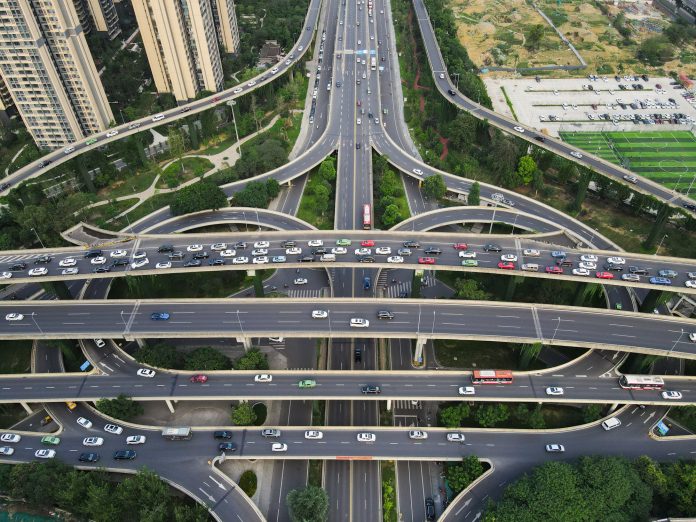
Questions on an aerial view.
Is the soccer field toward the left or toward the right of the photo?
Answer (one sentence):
The soccer field appears in the right half of the scene.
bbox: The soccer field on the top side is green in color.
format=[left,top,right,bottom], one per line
[558,132,696,201]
